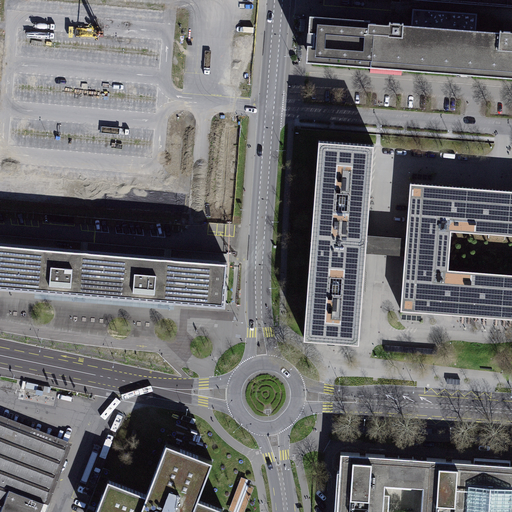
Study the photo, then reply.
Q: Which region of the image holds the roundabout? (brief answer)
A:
bottom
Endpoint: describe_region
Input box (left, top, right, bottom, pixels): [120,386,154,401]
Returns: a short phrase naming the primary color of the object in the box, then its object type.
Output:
white vehicle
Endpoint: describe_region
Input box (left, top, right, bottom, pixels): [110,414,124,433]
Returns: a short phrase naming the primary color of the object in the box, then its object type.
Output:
white vehicle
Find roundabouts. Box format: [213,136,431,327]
[225,354,306,435]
